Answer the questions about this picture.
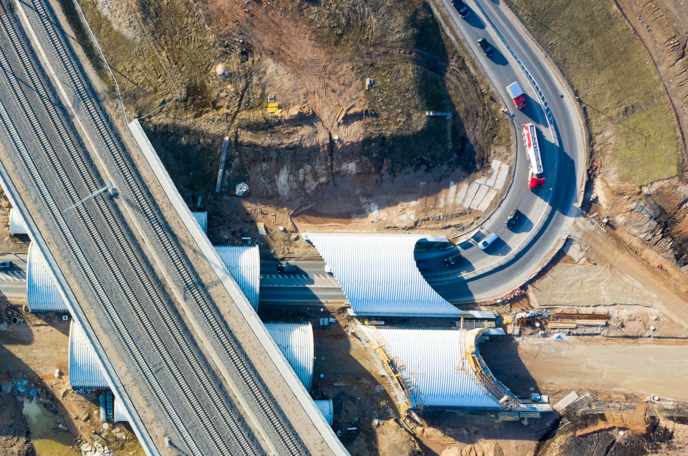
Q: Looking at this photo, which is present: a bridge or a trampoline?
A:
bridge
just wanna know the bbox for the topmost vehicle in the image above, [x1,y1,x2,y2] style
[452,0,467,18]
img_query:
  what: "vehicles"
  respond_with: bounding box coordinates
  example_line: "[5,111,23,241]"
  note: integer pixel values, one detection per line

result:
[520,123,544,189]
[0,262,12,269]
[477,232,499,251]
[320,264,332,273]
[478,38,492,58]
[415,262,434,271]
[505,79,530,114]
[504,209,522,229]
[452,0,467,18]
[276,265,299,273]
